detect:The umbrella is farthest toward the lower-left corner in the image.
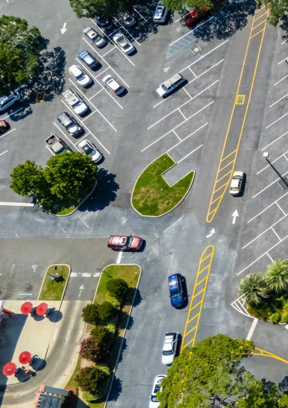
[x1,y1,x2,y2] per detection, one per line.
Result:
[2,362,19,376]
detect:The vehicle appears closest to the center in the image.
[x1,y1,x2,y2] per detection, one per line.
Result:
[104,234,145,251]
